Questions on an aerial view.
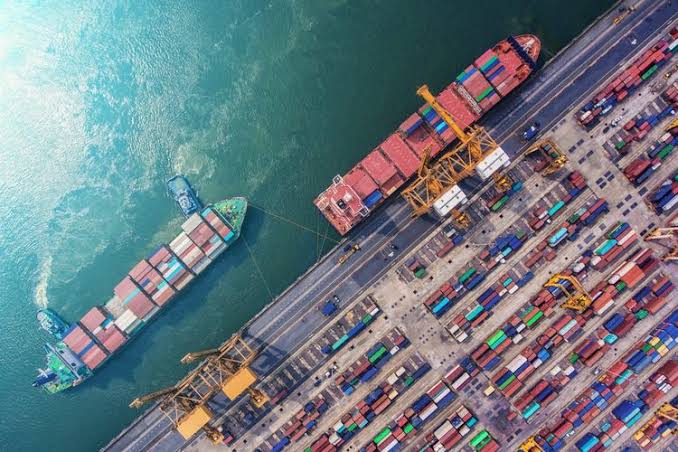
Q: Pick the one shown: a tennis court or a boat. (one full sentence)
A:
This aerial view contains a boat.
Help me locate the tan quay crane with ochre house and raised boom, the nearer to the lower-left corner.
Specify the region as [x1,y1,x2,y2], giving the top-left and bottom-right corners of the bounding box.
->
[130,359,229,445]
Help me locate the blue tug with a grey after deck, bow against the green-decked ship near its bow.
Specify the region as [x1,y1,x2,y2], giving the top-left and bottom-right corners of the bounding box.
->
[169,175,199,214]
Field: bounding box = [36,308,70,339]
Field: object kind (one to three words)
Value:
boat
